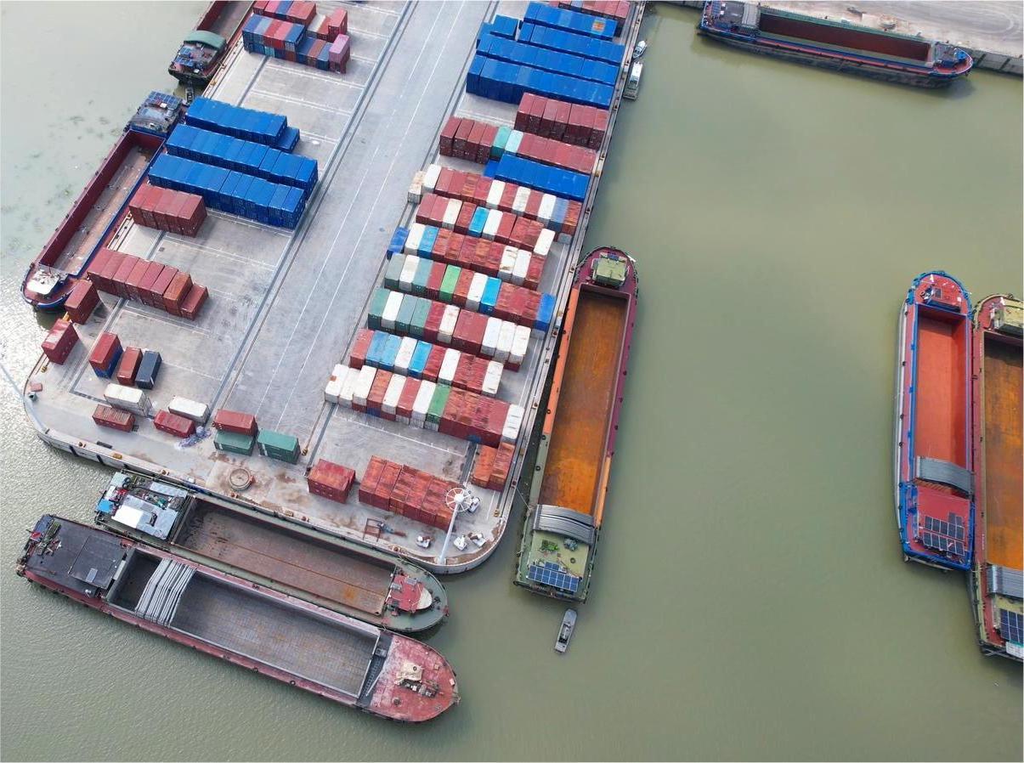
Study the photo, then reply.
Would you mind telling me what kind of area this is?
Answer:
port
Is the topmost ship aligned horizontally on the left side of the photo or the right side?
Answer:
right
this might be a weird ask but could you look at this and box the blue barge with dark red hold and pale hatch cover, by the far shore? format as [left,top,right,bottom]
[703,0,979,90]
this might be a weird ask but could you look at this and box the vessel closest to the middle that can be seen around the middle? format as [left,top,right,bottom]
[516,245,638,601]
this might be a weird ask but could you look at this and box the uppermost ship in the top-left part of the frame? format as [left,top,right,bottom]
[167,0,258,86]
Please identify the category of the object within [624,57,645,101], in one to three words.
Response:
boat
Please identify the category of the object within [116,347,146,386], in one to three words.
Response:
shipping container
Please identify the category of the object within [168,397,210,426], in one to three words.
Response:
shipping container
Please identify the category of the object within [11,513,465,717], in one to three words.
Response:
ship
